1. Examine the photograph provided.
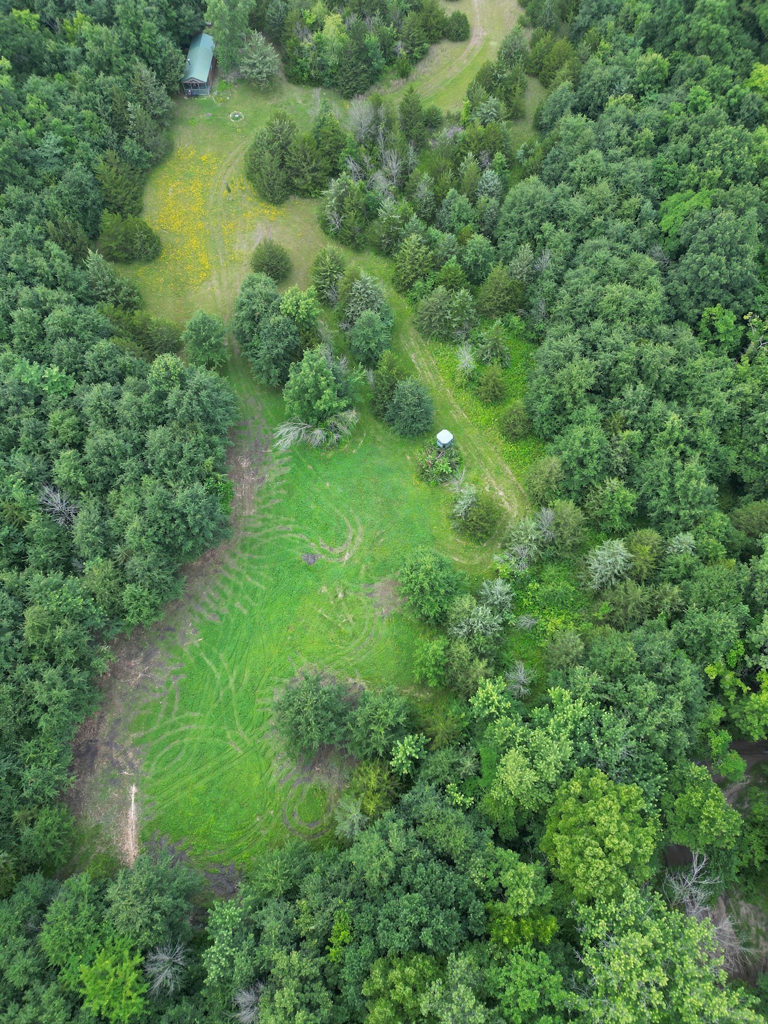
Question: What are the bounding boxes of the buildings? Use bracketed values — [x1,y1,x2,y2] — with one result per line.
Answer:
[436,429,453,452]
[181,31,214,96]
